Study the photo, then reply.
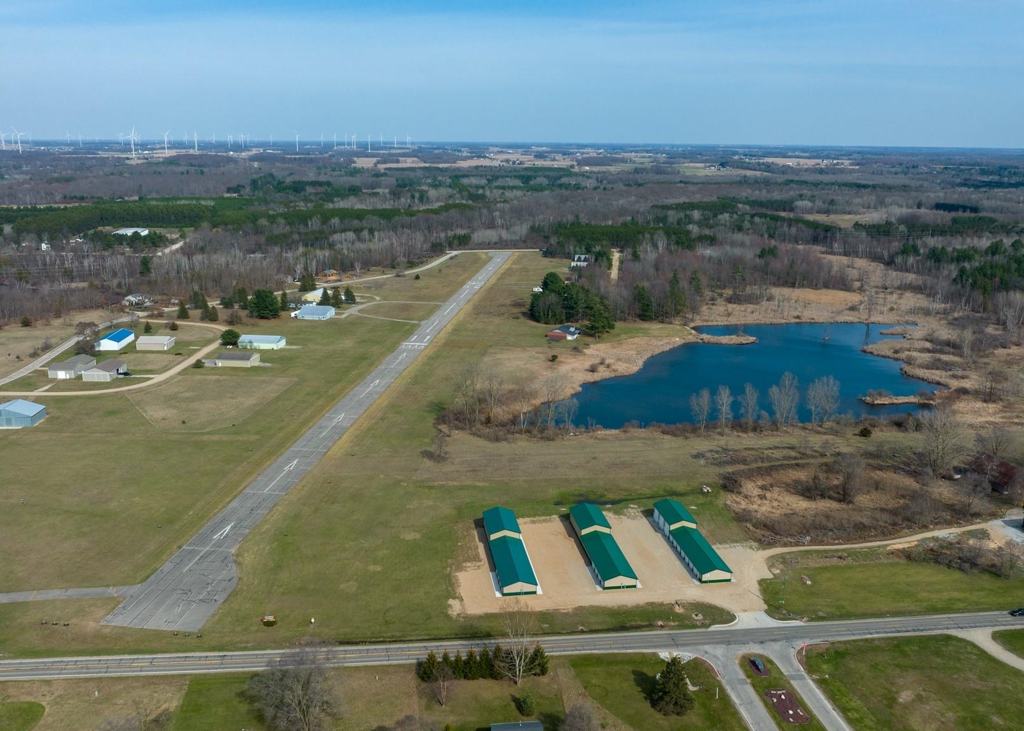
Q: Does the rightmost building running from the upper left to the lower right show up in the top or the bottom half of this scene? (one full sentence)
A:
You can find the rightmost building running from the upper left to the lower right in the bottom half.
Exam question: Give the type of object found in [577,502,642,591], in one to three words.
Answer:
building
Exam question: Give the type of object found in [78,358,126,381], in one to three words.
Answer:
hangar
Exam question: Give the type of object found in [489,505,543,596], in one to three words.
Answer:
building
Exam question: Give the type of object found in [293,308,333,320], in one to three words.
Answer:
hangar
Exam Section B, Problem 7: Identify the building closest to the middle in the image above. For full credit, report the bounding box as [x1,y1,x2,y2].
[547,325,575,341]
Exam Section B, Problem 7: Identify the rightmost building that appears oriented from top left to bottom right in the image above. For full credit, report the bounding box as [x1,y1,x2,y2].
[656,497,736,584]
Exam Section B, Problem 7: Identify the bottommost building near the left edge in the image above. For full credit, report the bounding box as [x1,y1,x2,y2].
[0,399,49,427]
